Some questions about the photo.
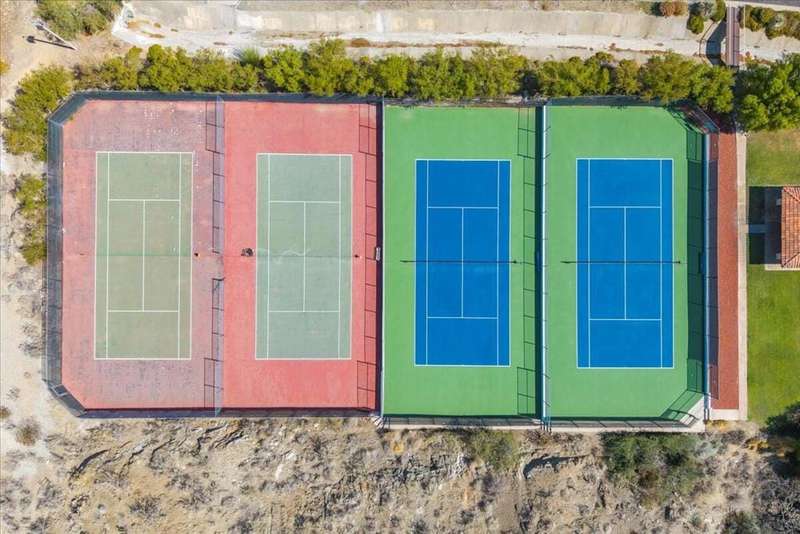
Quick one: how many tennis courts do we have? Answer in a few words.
four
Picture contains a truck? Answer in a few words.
No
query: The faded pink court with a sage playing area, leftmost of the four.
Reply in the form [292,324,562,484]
[62,101,224,409]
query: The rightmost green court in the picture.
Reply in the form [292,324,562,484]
[545,105,705,420]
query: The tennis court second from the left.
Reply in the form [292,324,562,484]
[224,101,382,409]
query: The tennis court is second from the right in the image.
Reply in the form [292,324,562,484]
[384,105,541,417]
